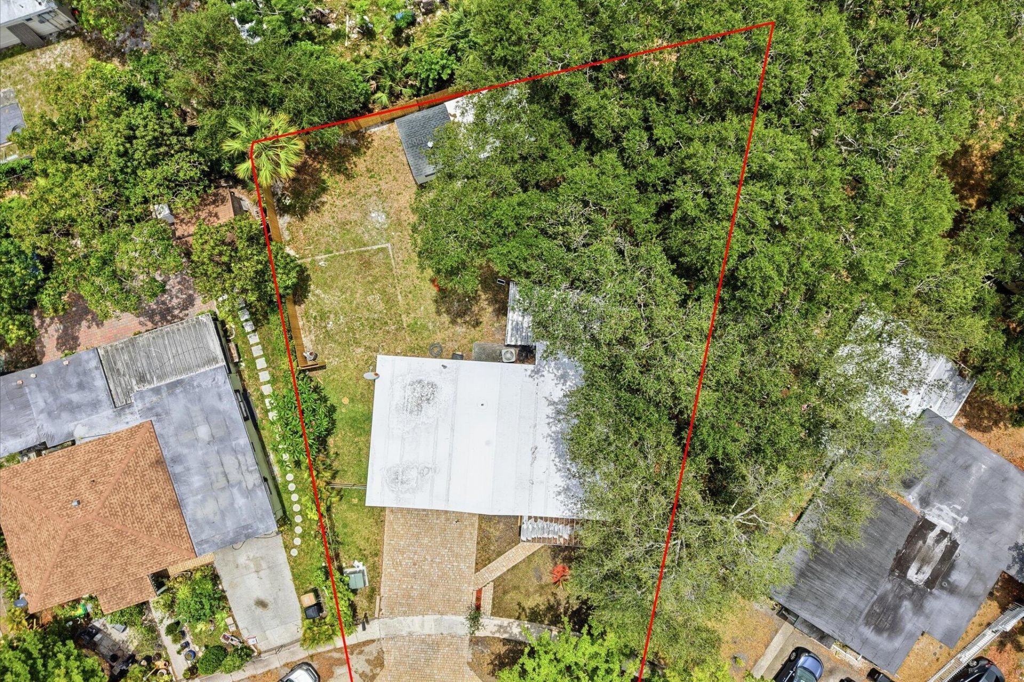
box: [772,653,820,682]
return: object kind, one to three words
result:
car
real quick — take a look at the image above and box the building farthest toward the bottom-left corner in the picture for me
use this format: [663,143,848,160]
[0,312,288,615]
